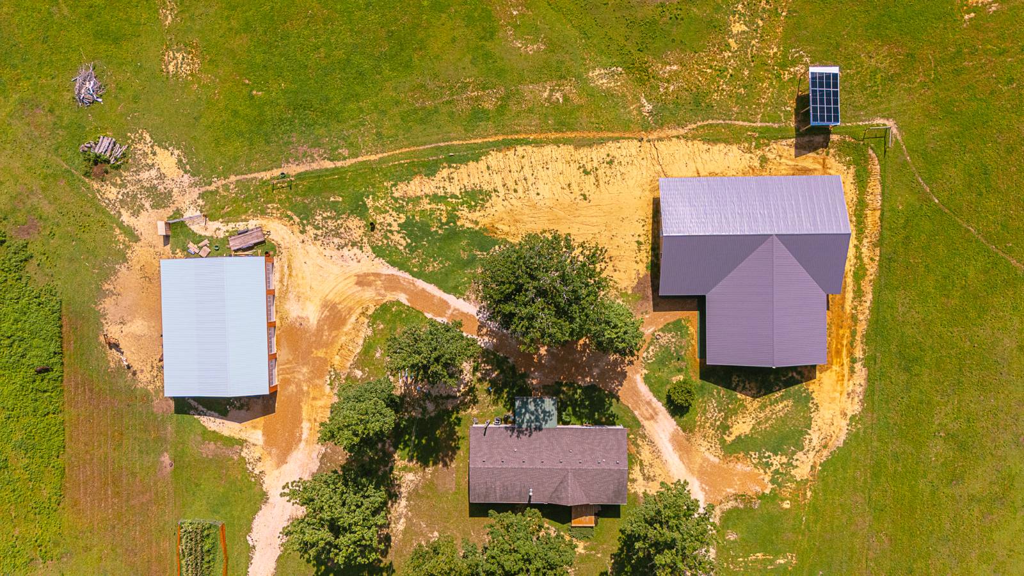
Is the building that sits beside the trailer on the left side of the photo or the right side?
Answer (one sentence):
The building that sits beside the trailer is on the left side of the image.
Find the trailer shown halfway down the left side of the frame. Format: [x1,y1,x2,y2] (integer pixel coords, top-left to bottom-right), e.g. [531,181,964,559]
[225,224,270,253]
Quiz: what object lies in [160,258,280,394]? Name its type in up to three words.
building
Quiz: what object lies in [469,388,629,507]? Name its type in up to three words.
house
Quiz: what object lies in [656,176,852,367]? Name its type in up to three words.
barn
